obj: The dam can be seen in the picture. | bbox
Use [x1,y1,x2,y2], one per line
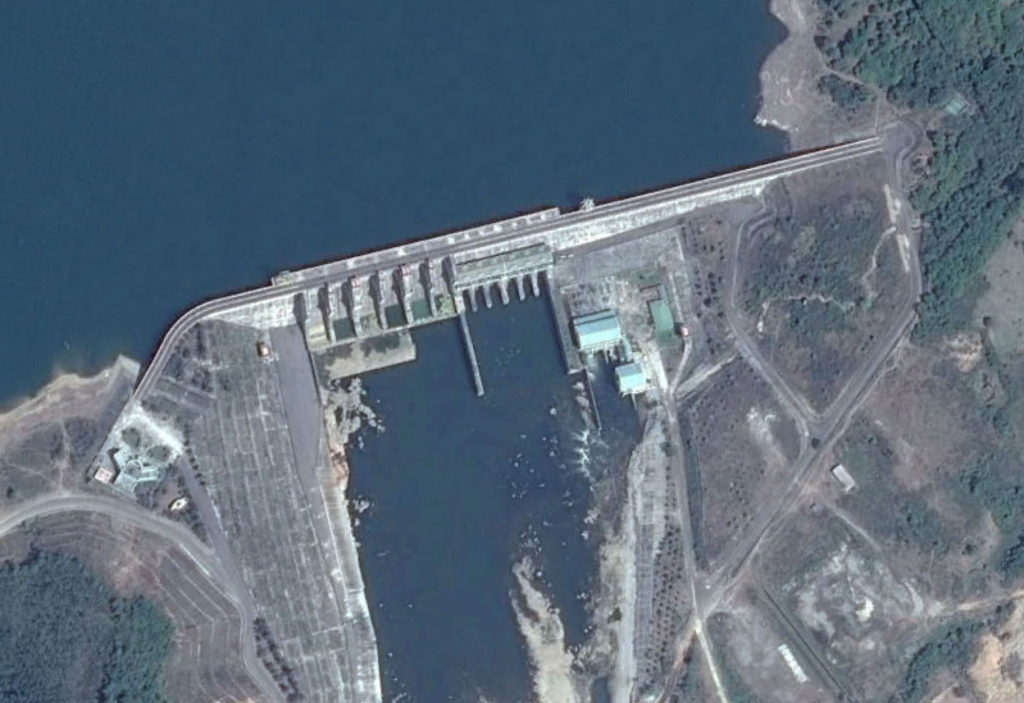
[131,137,882,444]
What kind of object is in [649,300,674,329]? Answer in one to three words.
shed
